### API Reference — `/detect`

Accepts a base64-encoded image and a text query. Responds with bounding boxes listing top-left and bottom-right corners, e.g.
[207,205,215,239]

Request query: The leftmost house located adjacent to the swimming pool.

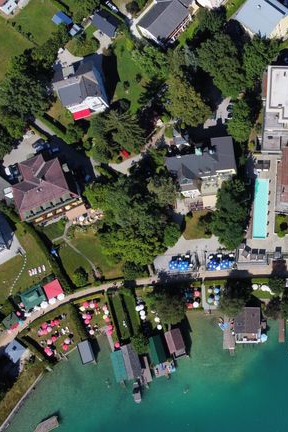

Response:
[165,136,238,208]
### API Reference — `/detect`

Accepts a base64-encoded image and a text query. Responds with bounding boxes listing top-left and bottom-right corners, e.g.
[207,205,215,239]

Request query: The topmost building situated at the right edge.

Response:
[236,0,288,40]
